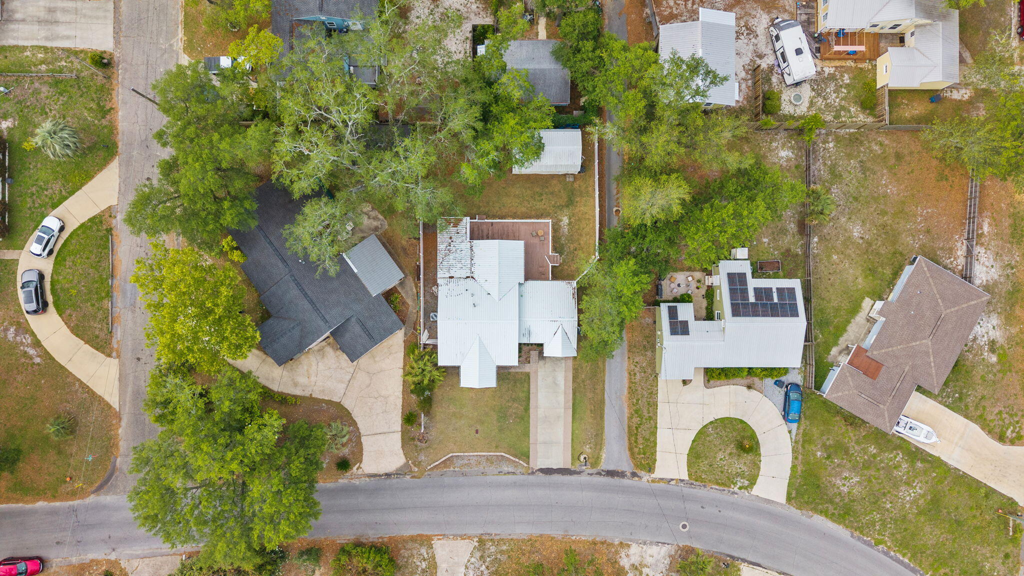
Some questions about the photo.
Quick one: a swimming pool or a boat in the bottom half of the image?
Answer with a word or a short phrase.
boat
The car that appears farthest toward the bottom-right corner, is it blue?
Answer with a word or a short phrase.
Yes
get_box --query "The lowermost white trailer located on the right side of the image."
[769,23,817,86]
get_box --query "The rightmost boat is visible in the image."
[894,411,942,444]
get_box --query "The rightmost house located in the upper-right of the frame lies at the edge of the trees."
[809,0,959,92]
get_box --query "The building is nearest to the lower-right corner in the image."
[817,254,991,434]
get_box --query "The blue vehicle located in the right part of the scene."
[782,382,803,424]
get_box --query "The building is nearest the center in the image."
[438,217,578,388]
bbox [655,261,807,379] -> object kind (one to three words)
house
